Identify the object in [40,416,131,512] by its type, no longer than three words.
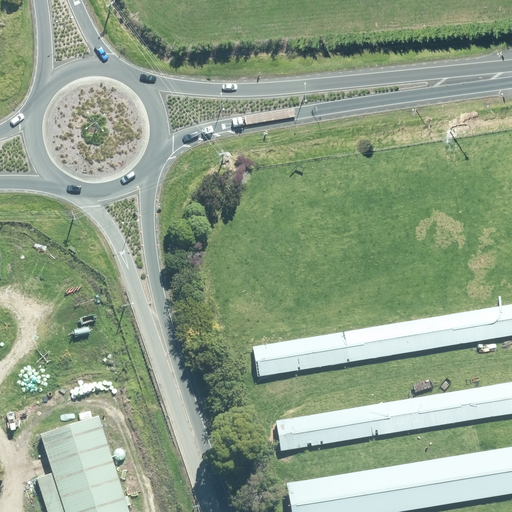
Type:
barn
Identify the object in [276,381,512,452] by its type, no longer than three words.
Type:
shed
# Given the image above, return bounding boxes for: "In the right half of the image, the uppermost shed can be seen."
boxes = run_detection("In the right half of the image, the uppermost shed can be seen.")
[254,296,512,377]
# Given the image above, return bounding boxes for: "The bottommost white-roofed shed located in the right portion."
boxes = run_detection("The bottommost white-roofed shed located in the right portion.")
[287,446,512,512]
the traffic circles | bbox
[18,52,174,207]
